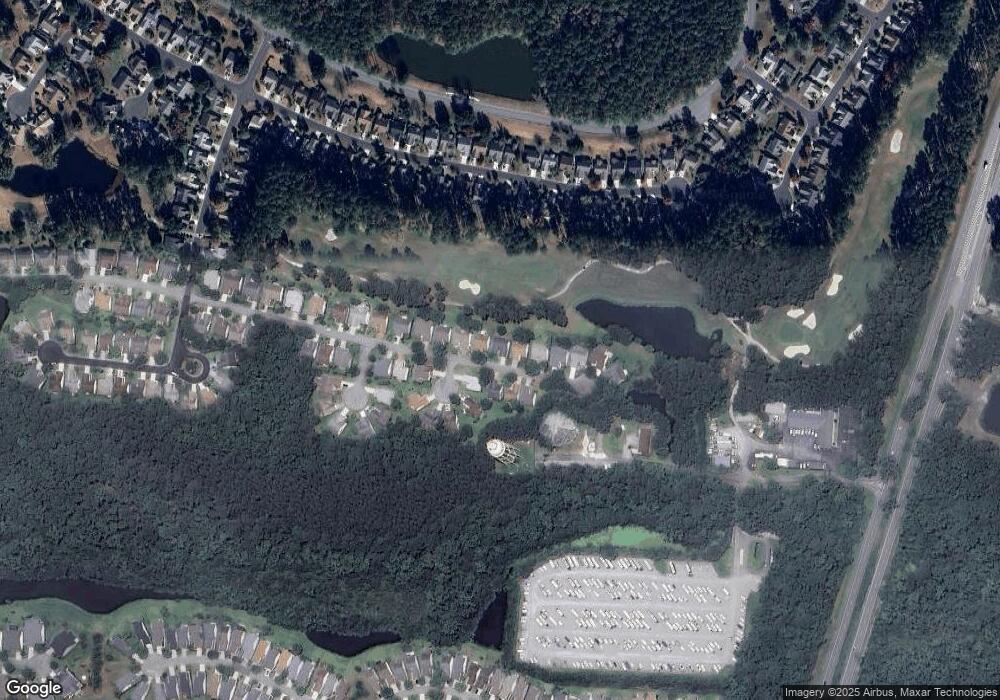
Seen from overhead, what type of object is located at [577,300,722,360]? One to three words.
pond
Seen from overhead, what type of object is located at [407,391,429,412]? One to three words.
house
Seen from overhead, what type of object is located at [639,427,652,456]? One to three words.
building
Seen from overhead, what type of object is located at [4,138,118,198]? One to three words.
pond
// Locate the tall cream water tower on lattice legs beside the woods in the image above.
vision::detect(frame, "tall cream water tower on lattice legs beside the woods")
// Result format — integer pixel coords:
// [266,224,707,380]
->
[487,438,521,467]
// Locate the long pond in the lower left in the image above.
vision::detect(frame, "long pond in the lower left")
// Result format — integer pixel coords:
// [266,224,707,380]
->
[0,579,194,614]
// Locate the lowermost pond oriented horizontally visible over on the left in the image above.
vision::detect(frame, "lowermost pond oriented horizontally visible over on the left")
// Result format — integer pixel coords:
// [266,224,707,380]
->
[307,629,402,656]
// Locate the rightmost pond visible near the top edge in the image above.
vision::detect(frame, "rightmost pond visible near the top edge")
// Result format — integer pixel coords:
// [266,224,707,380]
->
[379,34,537,99]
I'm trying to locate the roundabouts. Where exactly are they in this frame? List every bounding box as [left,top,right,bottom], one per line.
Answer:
[176,353,210,385]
